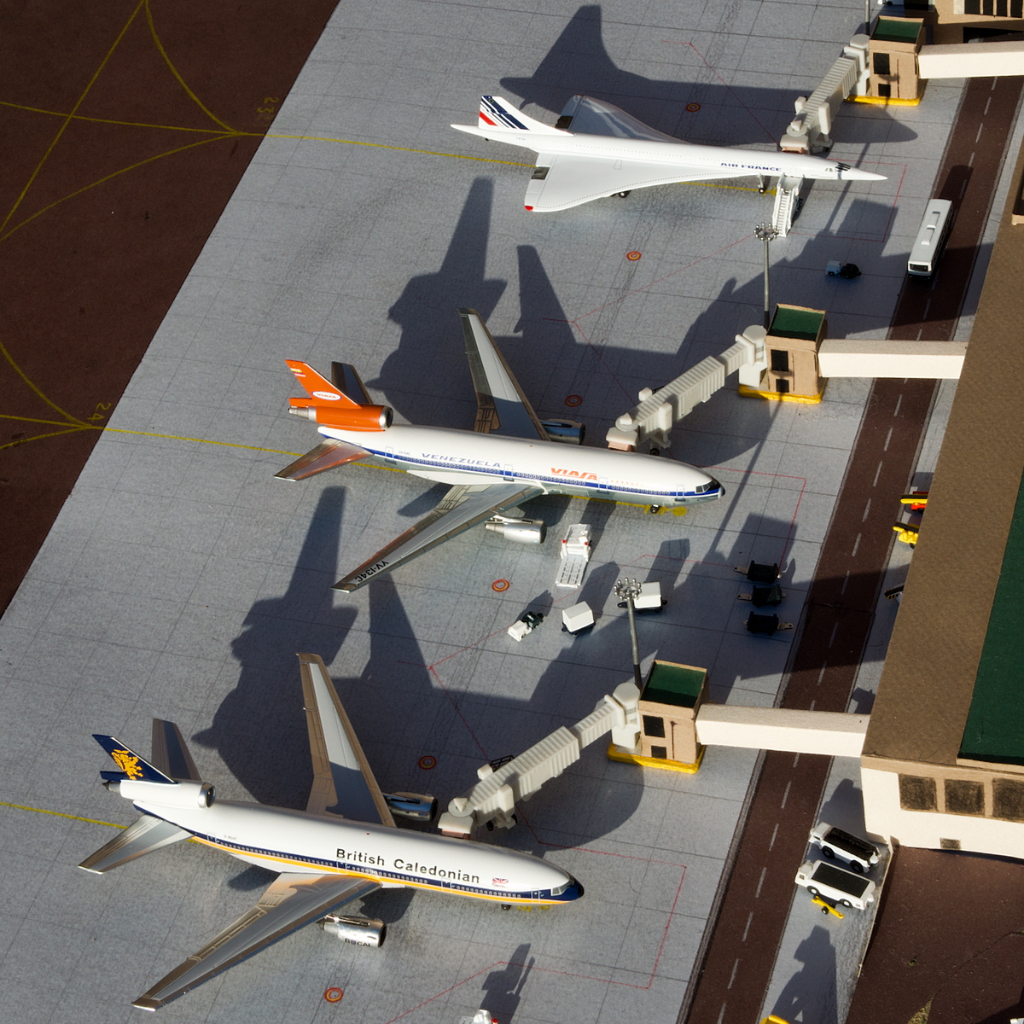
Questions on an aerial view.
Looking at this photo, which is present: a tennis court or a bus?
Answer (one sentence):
Of the two, only a bus appears.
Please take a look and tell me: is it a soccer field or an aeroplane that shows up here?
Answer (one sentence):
This aerial view contains an aeroplane.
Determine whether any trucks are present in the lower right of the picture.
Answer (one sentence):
Yes, you'll find a truck in the lower right of the picture.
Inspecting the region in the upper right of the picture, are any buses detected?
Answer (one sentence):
Yes, I can see a bus in the upper right of the picture.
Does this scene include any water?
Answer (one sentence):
No, there's no water in this view.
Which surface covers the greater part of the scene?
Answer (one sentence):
The largest share of the image is taken up by paved ground.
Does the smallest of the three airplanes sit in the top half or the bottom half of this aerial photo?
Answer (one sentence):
The top half of the photo is where the smallest of the three airplanes is.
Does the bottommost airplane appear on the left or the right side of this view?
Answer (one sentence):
You can find the bottommost airplane on the left side of the picture.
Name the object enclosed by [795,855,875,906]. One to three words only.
truck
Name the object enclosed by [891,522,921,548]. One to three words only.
work vehicle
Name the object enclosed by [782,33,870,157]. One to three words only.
jet bridge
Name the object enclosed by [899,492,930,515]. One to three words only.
work vehicle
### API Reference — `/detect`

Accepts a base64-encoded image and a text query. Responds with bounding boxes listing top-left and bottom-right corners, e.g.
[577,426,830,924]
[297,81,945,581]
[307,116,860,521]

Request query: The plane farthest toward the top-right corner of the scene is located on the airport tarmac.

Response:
[451,94,887,211]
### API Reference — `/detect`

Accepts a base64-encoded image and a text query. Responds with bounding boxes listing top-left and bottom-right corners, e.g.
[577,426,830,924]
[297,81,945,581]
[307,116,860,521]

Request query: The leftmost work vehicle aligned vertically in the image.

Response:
[554,516,596,590]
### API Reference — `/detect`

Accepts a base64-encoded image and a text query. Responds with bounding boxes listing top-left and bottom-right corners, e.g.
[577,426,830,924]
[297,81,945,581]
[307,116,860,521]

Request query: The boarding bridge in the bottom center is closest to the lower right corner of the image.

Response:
[437,681,642,843]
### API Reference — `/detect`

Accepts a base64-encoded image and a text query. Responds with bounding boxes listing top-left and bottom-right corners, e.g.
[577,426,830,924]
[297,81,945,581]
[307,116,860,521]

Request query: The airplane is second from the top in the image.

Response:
[274,308,725,591]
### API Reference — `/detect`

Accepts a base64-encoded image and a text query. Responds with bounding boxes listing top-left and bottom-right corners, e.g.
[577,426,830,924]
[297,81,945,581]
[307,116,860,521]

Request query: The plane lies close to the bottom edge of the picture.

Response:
[79,653,584,1011]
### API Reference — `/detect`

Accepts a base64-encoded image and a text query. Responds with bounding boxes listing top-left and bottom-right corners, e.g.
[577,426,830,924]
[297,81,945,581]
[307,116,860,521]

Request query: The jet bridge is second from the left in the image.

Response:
[606,324,767,456]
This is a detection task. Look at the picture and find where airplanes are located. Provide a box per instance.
[274,308,725,591]
[451,94,887,211]
[79,653,584,1011]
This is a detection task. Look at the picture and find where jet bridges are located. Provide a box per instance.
[782,33,870,157]
[437,681,642,843]
[606,324,767,456]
